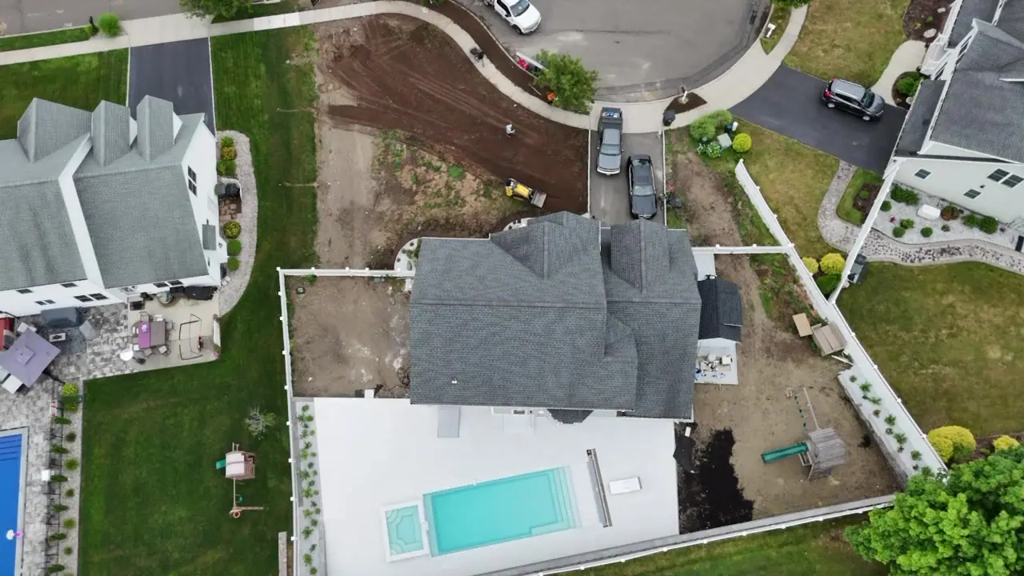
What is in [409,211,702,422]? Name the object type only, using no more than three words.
house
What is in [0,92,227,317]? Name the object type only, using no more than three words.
house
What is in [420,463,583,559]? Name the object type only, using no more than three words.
swimming pool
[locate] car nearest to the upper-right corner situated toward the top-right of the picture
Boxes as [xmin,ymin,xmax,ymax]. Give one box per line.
[823,80,882,121]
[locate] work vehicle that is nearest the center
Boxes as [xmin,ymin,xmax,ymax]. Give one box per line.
[512,177,547,206]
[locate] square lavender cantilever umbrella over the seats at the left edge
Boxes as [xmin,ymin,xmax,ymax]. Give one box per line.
[0,329,64,387]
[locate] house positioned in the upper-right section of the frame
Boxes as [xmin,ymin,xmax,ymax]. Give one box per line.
[890,0,1024,255]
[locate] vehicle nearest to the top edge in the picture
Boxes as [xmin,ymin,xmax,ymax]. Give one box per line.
[496,0,543,35]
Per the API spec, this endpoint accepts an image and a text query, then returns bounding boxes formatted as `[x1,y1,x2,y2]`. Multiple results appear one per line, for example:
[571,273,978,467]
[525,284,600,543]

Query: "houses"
[409,211,702,422]
[0,92,227,317]
[890,0,1024,255]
